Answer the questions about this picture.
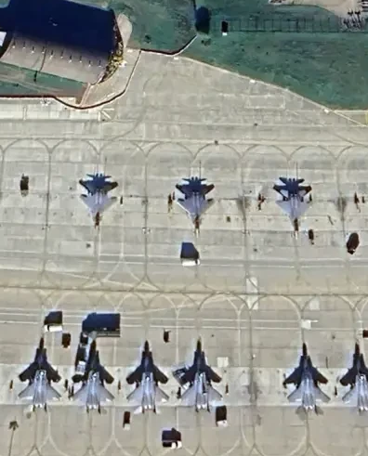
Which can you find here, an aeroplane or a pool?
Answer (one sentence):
I can see an aeroplane in this picture.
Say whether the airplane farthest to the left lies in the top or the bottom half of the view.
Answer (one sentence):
The airplane farthest to the left sits in the bottom half of the picture.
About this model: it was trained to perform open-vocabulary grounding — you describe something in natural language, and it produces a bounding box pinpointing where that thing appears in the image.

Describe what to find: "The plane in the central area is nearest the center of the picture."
[175,178,215,237]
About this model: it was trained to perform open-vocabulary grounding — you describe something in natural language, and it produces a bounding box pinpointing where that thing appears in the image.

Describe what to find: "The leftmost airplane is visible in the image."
[19,355,60,420]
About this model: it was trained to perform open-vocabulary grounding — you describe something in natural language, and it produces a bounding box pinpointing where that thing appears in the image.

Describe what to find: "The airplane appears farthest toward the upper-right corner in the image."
[274,182,313,239]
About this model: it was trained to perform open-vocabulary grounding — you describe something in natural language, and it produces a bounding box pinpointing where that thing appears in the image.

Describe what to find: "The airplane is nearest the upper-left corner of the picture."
[79,178,117,234]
